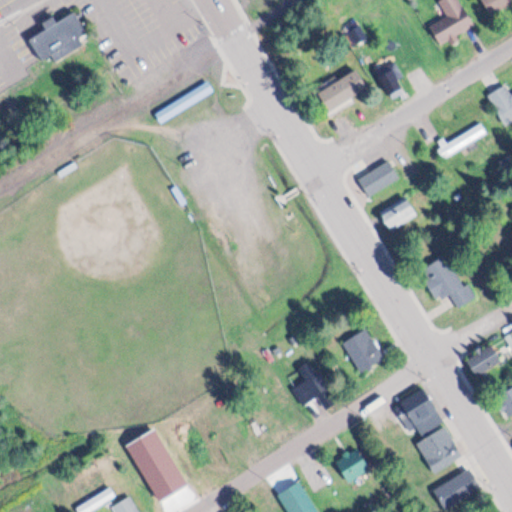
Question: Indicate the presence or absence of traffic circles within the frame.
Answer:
No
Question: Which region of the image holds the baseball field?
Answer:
left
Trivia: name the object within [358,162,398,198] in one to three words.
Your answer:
house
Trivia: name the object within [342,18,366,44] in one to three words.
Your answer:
shed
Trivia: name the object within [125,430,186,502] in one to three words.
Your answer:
building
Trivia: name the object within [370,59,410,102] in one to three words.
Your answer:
house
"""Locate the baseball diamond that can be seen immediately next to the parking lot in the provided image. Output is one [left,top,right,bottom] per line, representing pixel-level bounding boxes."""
[0,137,226,437]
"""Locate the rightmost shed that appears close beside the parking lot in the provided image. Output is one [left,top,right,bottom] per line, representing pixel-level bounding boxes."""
[155,80,214,125]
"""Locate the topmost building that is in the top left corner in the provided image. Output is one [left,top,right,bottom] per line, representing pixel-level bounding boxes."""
[28,13,88,62]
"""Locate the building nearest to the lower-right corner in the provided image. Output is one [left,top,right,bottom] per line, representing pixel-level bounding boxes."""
[434,471,479,510]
